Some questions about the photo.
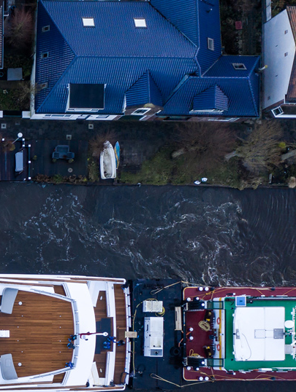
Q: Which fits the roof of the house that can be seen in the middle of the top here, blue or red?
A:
blue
